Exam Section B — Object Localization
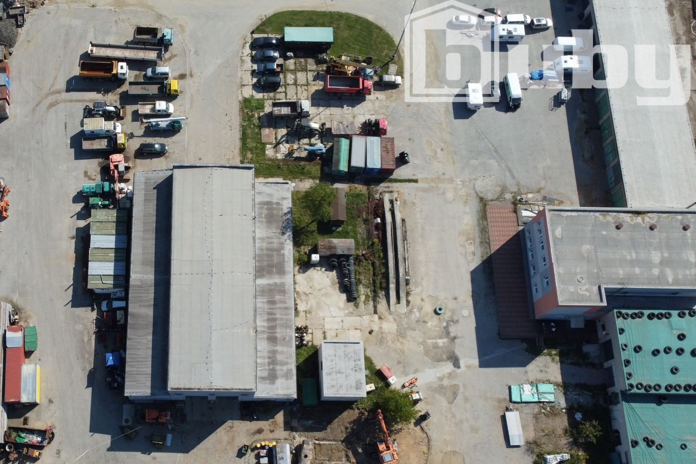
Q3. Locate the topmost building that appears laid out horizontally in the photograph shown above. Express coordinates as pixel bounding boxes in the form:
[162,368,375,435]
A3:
[283,28,333,51]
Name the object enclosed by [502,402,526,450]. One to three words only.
trailer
